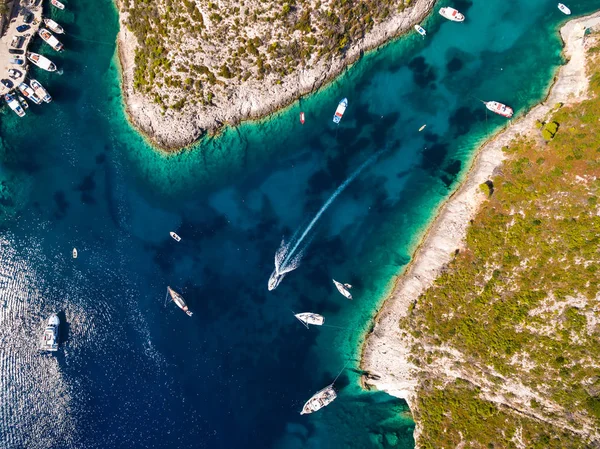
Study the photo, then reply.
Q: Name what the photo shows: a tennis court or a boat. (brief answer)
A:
boat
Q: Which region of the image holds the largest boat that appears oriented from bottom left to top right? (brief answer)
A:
bottom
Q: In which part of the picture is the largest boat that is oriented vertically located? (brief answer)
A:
bottom left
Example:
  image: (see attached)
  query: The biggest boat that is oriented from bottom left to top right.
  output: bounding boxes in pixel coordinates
[299,357,353,417]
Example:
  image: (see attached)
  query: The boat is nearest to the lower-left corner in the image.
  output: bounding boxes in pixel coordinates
[36,314,57,353]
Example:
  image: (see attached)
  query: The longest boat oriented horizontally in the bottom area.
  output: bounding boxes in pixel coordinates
[286,305,362,331]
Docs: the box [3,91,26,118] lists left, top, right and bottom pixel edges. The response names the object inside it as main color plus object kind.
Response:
white boat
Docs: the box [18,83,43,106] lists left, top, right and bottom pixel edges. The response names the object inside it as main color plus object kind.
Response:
white boat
